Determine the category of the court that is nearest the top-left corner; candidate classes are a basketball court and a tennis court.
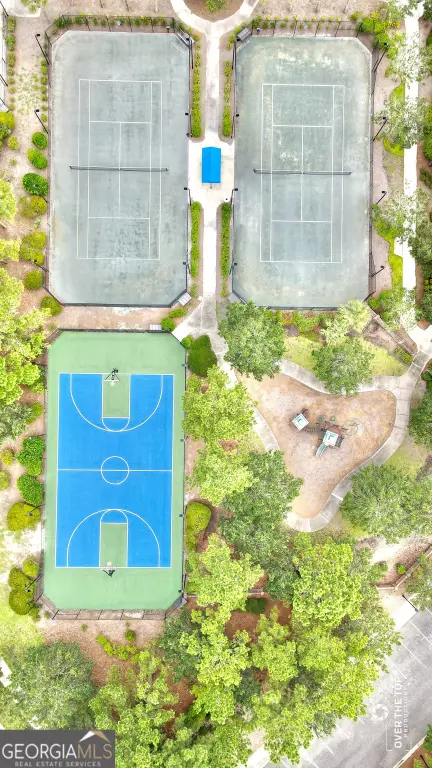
tennis court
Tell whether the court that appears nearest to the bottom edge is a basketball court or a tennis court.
basketball court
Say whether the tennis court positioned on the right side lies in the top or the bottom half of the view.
top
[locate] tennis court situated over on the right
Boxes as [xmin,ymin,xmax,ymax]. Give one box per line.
[234,36,371,307]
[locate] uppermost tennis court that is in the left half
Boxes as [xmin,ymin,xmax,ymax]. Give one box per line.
[49,31,190,304]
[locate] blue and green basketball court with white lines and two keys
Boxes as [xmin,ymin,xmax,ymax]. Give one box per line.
[44,331,186,610]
